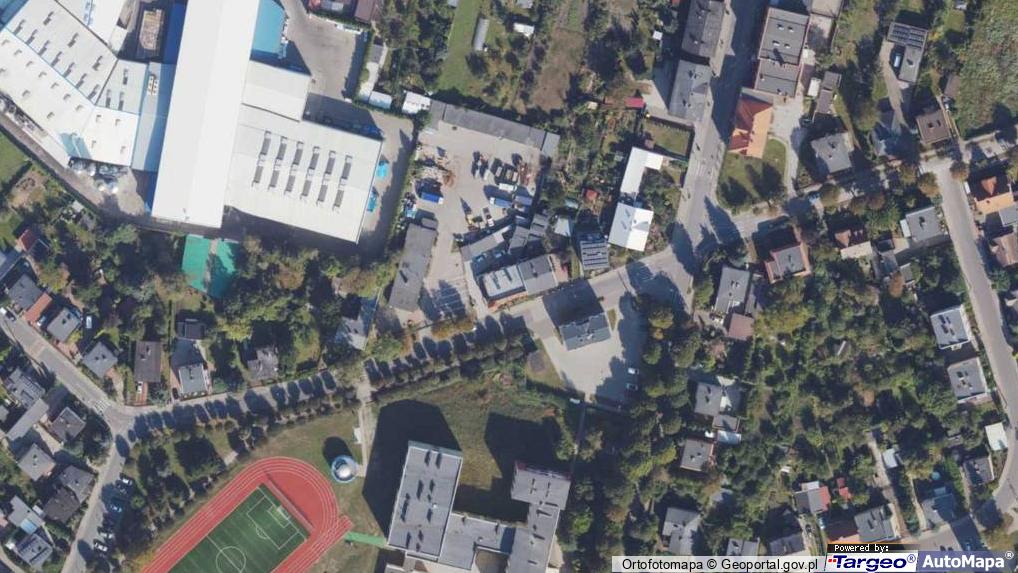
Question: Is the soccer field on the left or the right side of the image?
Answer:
left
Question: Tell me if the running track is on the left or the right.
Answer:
left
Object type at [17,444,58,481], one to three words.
house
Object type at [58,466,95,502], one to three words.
house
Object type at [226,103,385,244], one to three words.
building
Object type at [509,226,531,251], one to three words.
shed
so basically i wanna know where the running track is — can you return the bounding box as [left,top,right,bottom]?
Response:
[133,461,356,573]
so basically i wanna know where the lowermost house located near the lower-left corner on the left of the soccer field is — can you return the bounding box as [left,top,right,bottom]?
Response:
[15,533,56,567]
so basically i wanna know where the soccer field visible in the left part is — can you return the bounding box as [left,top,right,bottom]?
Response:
[168,483,311,573]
